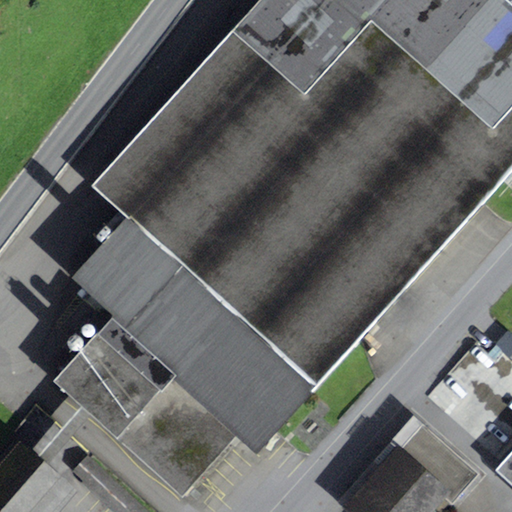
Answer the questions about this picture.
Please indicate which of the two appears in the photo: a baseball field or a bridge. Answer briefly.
bridge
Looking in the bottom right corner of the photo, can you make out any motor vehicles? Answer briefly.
Yes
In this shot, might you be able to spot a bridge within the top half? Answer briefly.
No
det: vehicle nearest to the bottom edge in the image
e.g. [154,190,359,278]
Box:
[487,423,509,444]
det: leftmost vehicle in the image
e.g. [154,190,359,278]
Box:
[444,378,466,399]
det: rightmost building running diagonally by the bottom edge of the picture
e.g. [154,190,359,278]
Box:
[394,416,478,504]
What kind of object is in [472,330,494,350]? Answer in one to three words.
car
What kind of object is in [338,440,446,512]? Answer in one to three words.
house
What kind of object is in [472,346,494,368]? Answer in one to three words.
vehicle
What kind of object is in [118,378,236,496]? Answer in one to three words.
building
